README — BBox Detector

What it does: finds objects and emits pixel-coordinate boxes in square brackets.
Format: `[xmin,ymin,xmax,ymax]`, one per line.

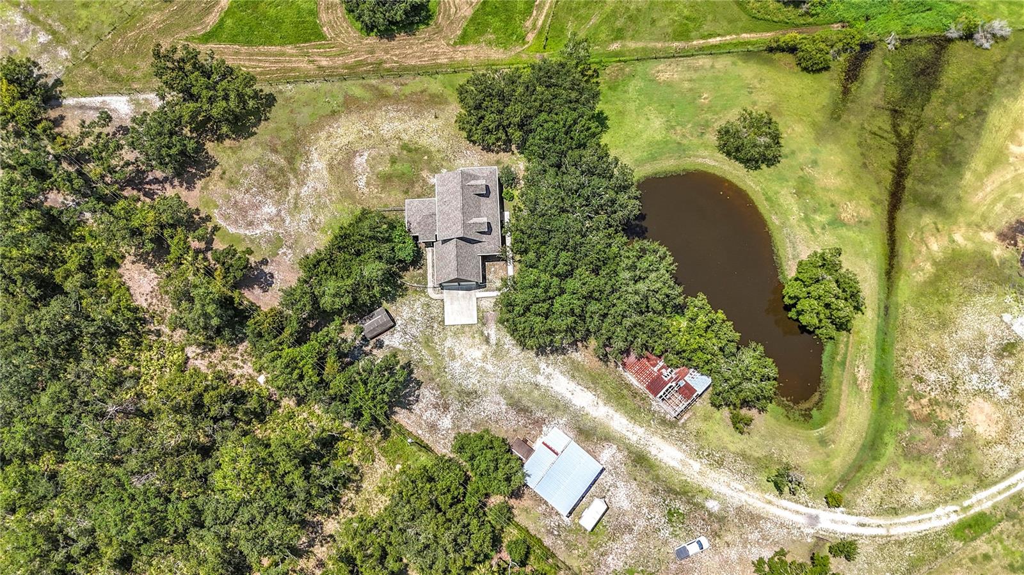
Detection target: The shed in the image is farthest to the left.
[358,308,393,341]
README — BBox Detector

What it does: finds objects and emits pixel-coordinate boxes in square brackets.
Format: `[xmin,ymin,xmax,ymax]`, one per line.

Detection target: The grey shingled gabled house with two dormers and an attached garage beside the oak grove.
[405,163,502,289]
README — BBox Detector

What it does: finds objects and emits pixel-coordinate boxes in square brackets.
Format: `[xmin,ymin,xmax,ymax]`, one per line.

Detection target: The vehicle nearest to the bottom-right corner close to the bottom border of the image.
[675,539,710,561]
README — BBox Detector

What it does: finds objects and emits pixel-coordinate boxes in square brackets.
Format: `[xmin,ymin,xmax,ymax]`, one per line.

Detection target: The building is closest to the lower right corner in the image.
[613,334,712,420]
